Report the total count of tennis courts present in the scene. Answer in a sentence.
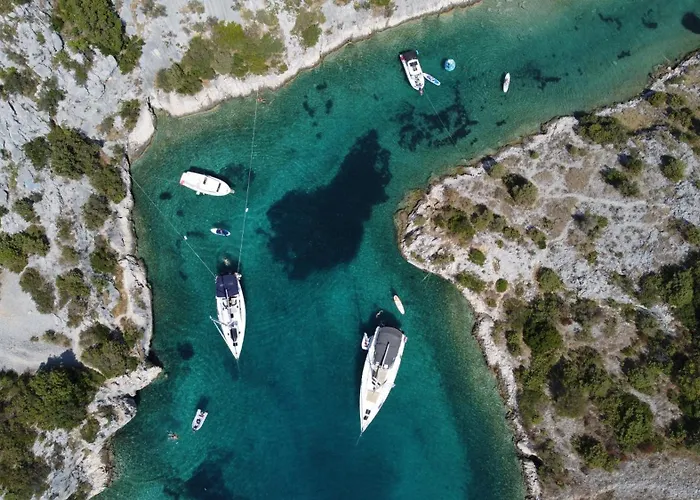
The picture shows no tennis courts.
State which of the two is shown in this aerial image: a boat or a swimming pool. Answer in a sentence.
There is a boat in the scene.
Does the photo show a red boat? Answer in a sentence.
No, no red boat is visible in the scene.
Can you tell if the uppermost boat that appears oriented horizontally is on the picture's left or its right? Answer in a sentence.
The uppermost boat that appears oriented horizontally sits on the left side.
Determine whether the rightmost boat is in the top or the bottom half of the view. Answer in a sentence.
The rightmost boat sits in the top half of the picture.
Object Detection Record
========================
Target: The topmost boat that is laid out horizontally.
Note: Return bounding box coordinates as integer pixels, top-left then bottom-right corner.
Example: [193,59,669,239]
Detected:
[177,171,237,198]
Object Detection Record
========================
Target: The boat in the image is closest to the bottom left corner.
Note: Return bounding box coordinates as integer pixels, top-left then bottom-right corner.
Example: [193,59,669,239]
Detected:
[191,406,208,431]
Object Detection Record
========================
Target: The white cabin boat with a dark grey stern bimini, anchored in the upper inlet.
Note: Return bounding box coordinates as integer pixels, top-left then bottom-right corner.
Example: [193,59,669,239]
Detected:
[400,46,426,95]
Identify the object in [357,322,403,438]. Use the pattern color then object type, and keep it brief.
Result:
white boat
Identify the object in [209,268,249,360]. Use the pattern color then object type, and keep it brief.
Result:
white boat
